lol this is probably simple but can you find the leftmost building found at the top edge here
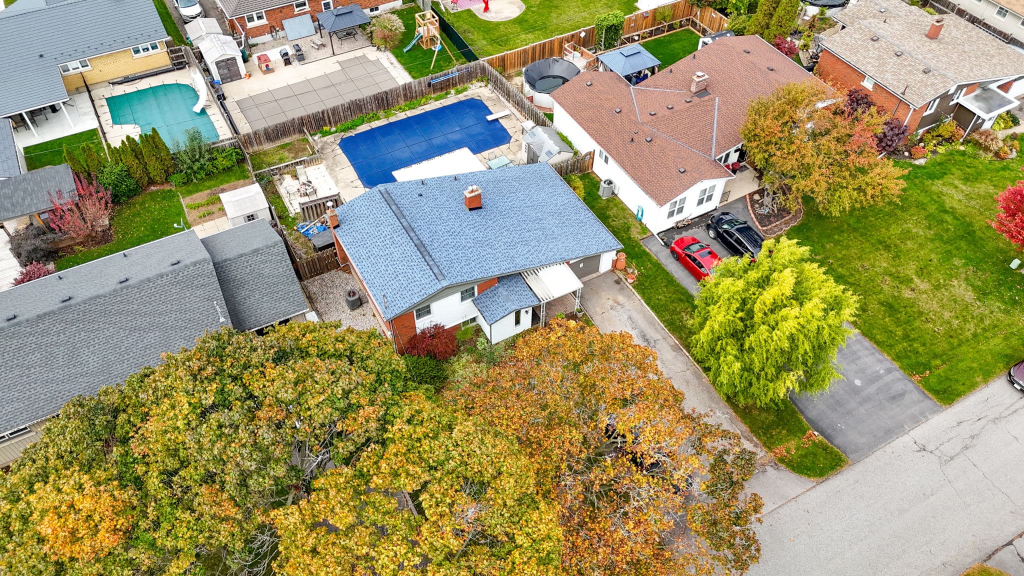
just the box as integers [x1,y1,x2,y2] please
[0,0,175,138]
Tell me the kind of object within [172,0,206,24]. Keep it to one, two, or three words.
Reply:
car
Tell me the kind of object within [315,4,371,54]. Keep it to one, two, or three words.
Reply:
gazebo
